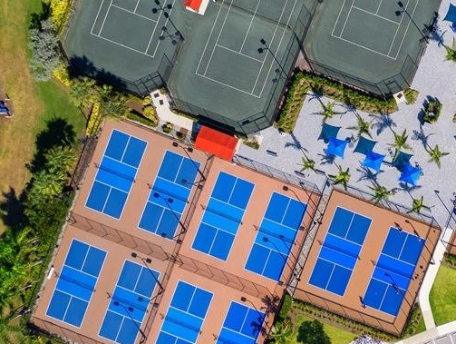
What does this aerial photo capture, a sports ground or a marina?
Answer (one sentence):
The area seen from above is a sports ground.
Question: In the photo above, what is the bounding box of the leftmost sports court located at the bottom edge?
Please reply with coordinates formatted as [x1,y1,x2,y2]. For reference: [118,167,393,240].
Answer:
[30,219,121,344]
